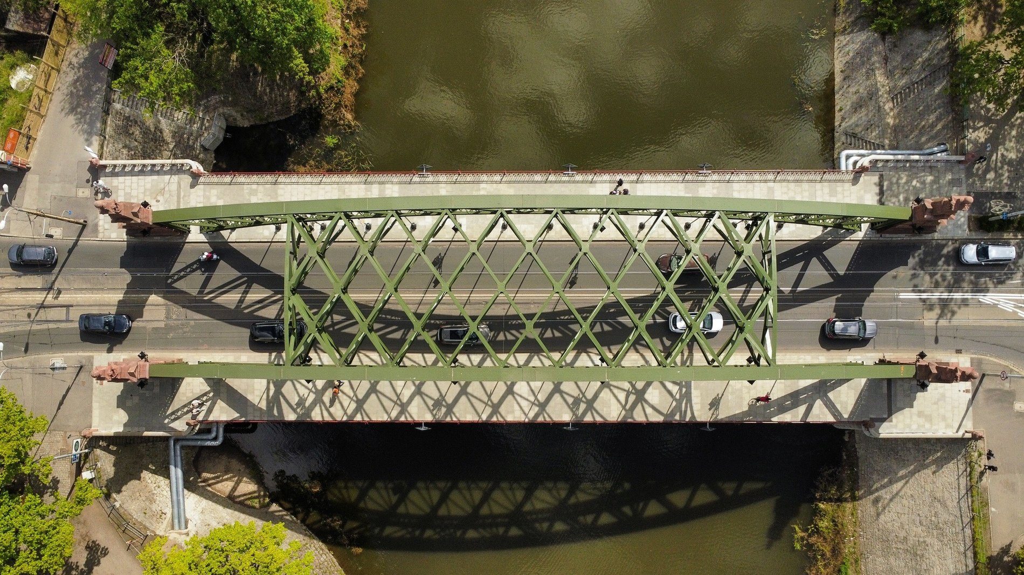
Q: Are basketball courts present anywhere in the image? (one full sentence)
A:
No, there appears to be no basketball court in this shot.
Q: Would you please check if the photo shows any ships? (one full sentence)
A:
No, the frame has no ship in it.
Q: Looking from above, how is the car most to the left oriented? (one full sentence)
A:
The car most to the left is oriented from left to right.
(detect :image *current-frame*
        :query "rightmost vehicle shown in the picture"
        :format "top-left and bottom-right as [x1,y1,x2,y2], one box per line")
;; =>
[957,240,1018,266]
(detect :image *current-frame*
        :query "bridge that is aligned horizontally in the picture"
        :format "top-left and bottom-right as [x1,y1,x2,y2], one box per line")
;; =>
[74,153,983,441]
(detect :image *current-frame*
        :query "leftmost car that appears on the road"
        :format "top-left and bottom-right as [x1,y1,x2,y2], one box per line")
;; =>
[10,242,60,268]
